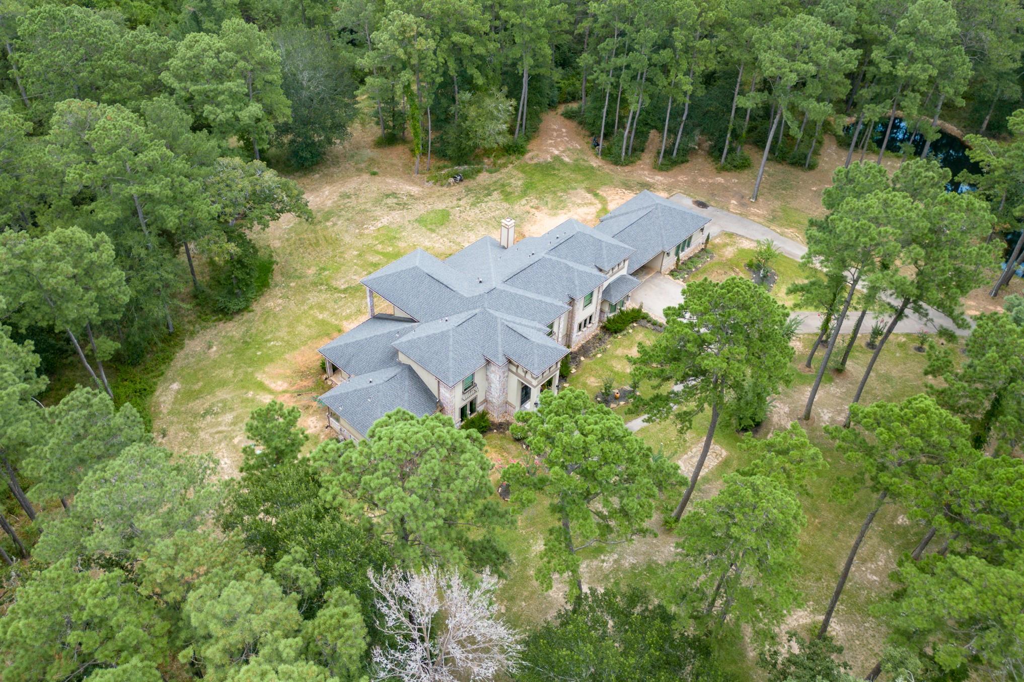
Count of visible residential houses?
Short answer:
one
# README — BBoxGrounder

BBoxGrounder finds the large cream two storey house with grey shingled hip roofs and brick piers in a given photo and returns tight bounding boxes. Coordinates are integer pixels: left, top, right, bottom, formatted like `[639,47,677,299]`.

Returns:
[317,189,711,461]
